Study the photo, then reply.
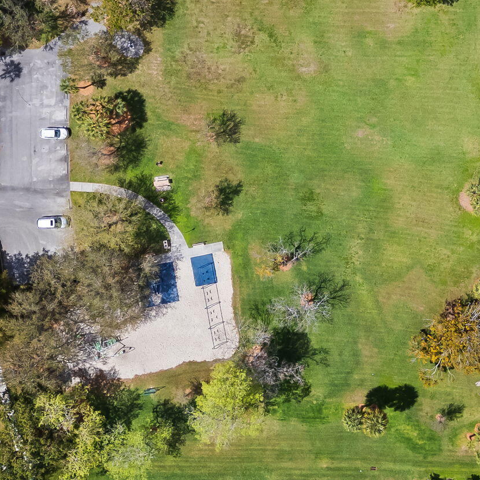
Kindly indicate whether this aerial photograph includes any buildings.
No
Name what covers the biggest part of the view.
grass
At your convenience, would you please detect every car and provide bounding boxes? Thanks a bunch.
[36,216,68,230]
[39,127,69,141]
